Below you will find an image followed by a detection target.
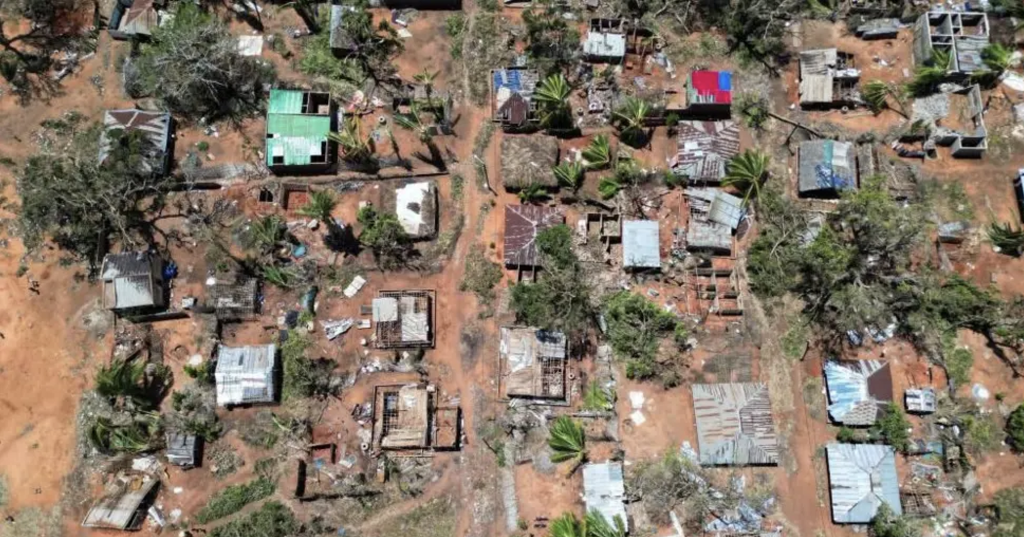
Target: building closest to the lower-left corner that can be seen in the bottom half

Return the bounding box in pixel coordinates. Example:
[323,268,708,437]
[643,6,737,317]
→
[84,477,160,527]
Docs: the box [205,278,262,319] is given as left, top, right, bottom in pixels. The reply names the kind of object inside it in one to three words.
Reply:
building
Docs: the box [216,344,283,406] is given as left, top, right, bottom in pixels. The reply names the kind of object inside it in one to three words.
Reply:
house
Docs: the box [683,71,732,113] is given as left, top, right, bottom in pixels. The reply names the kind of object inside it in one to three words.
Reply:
house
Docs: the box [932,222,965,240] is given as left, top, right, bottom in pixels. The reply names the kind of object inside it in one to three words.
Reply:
shed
